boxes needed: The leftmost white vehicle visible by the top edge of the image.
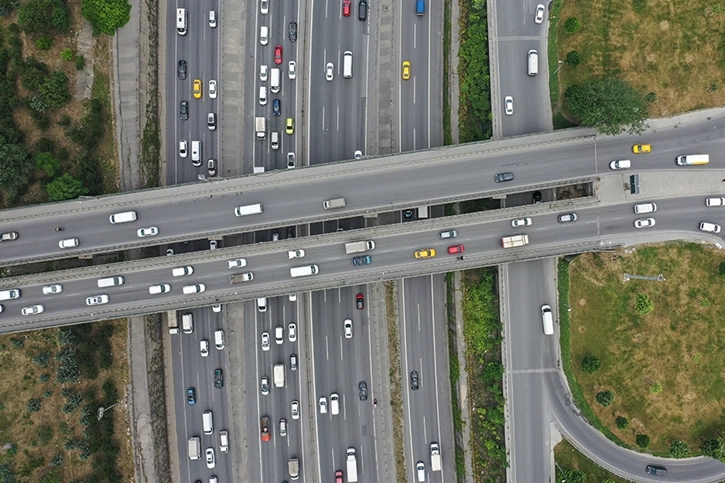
[176,8,190,38]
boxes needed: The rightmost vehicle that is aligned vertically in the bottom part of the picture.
[538,303,555,335]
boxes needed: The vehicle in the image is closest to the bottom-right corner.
[644,464,668,477]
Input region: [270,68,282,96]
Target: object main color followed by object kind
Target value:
white vehicle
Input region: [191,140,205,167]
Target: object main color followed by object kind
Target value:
white vehicle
